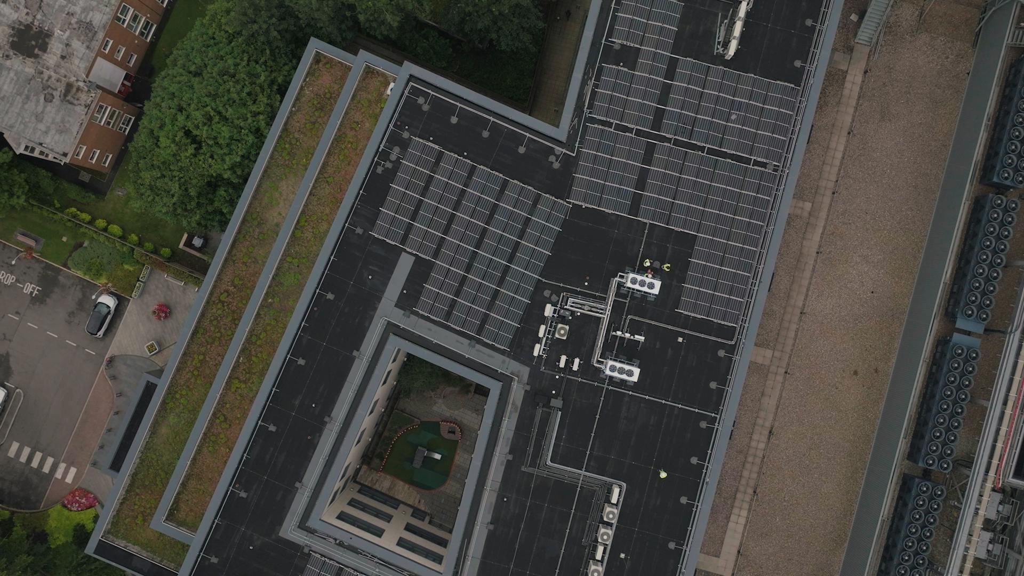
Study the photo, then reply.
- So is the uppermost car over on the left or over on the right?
left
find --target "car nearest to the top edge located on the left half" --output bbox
[83,293,121,340]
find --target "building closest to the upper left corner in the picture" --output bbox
[0,0,167,172]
